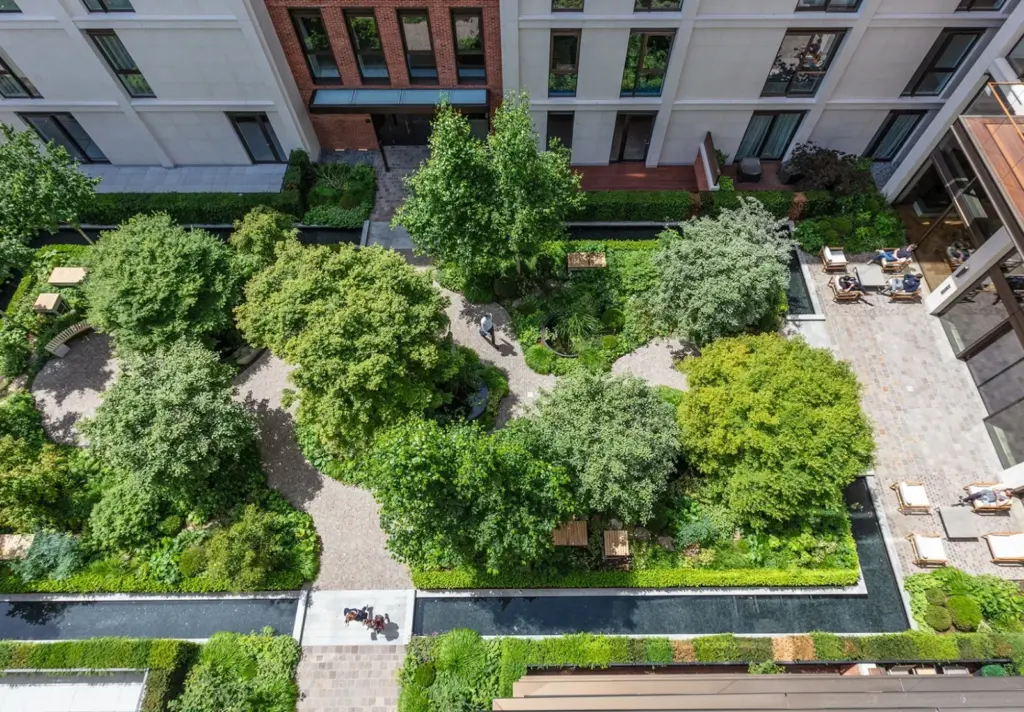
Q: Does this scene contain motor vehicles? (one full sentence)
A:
No, I can't see a single motor vehicle in this photo.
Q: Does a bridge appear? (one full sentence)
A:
Yes, the image includes a bridge.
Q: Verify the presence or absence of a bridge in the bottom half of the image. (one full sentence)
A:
Yes, there is a bridge in the bottom half of the image.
